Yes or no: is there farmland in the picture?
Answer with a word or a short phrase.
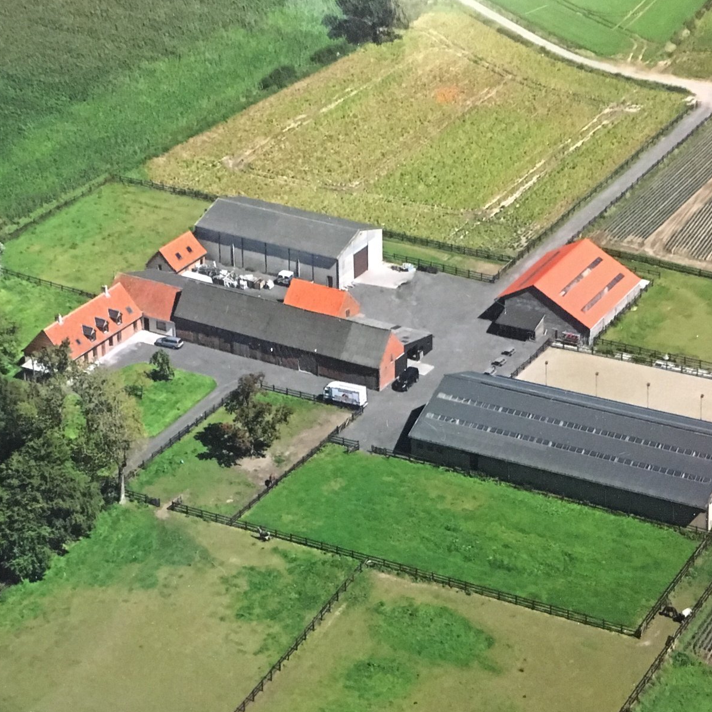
Yes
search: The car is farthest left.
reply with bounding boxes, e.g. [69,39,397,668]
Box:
[155,333,184,347]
